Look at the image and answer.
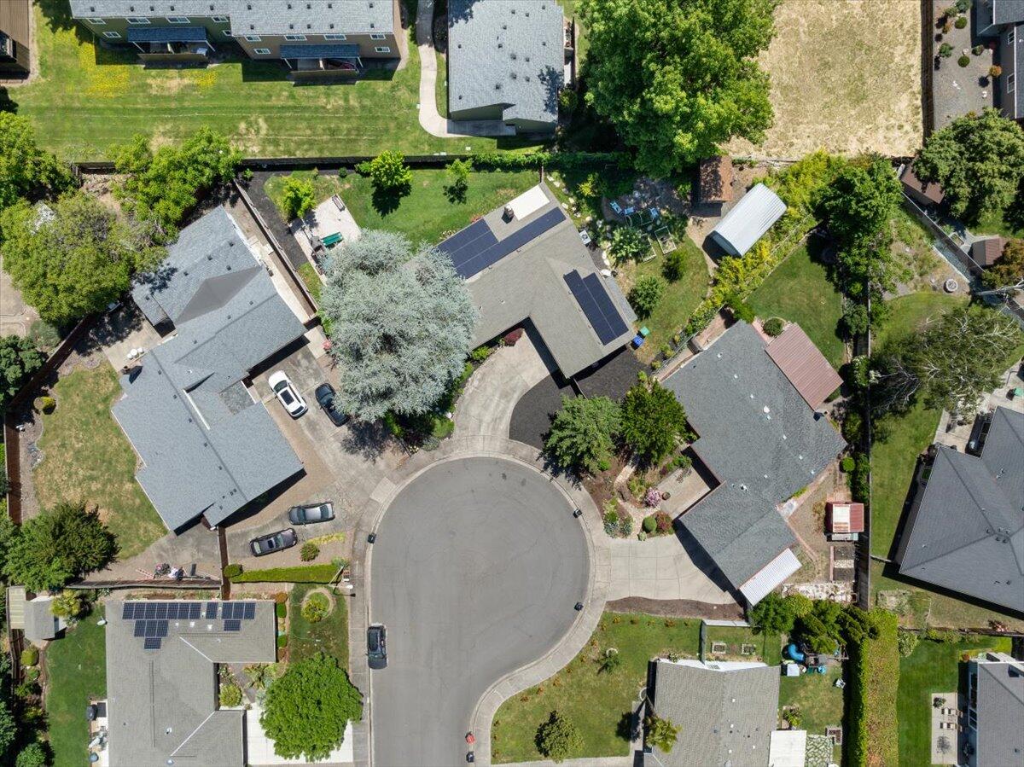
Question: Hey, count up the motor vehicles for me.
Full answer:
There are 5 motor vehicles in the image.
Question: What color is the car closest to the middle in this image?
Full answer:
The color of the car closest to the middle is black.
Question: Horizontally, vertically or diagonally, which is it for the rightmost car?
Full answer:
The rightmost car has been laid out vertically relative to the frame.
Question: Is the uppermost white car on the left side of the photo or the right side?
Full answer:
The uppermost white car sits on the left side.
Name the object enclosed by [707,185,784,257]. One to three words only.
shed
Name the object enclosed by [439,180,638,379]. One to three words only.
house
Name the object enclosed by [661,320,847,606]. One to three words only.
house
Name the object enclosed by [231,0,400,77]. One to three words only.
building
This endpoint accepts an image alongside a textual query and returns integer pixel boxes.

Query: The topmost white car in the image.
[266,372,304,419]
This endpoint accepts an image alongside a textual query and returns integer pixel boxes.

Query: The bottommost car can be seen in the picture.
[364,625,387,671]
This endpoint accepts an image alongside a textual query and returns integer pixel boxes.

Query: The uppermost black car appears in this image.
[313,381,349,429]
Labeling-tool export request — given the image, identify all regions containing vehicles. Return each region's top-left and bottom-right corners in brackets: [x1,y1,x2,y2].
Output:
[313,381,349,429]
[364,625,387,671]
[266,372,304,419]
[246,530,298,558]
[286,502,335,527]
